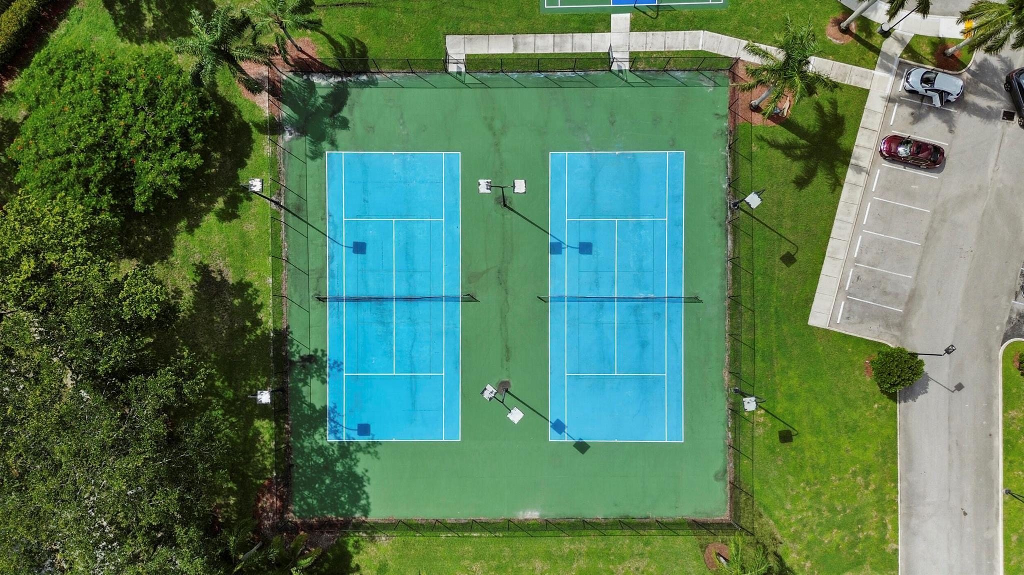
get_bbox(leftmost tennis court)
[282,71,505,519]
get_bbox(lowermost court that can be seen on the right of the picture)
[505,70,729,518]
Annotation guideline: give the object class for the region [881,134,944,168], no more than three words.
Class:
car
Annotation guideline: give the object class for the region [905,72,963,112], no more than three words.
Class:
car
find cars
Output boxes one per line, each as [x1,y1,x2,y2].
[881,134,944,168]
[905,72,963,112]
[1008,70,1024,123]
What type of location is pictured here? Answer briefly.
sports ground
